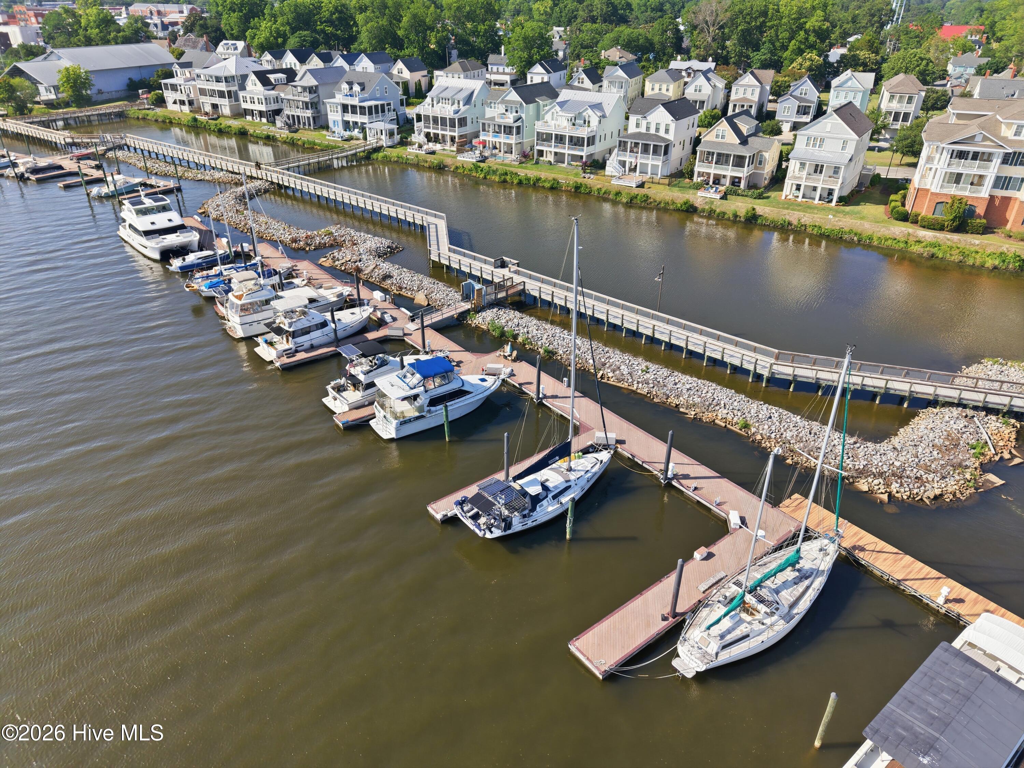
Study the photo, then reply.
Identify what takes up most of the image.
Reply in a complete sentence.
The scene is dominated by water.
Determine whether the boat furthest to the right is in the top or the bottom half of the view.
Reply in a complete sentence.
Seen from above, the boat furthest to the right lies in the bottom half of the view.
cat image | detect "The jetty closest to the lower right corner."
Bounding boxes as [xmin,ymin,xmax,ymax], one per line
[786,493,1024,631]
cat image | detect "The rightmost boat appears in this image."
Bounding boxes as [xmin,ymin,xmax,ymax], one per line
[830,610,1024,768]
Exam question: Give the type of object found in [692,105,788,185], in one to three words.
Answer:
house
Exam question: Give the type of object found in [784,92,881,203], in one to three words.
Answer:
house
